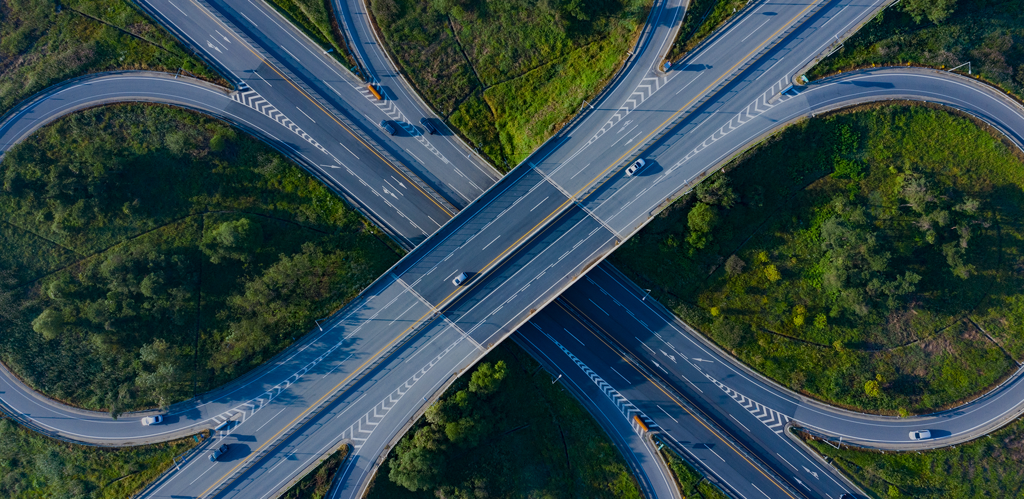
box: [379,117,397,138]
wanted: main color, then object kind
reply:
blue car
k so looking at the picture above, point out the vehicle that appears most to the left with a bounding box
[141,414,164,426]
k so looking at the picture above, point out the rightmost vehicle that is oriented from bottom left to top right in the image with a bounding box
[624,158,645,178]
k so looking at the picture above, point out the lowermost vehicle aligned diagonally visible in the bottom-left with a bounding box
[208,442,231,463]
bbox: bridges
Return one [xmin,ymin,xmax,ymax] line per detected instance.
[340,133,656,378]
